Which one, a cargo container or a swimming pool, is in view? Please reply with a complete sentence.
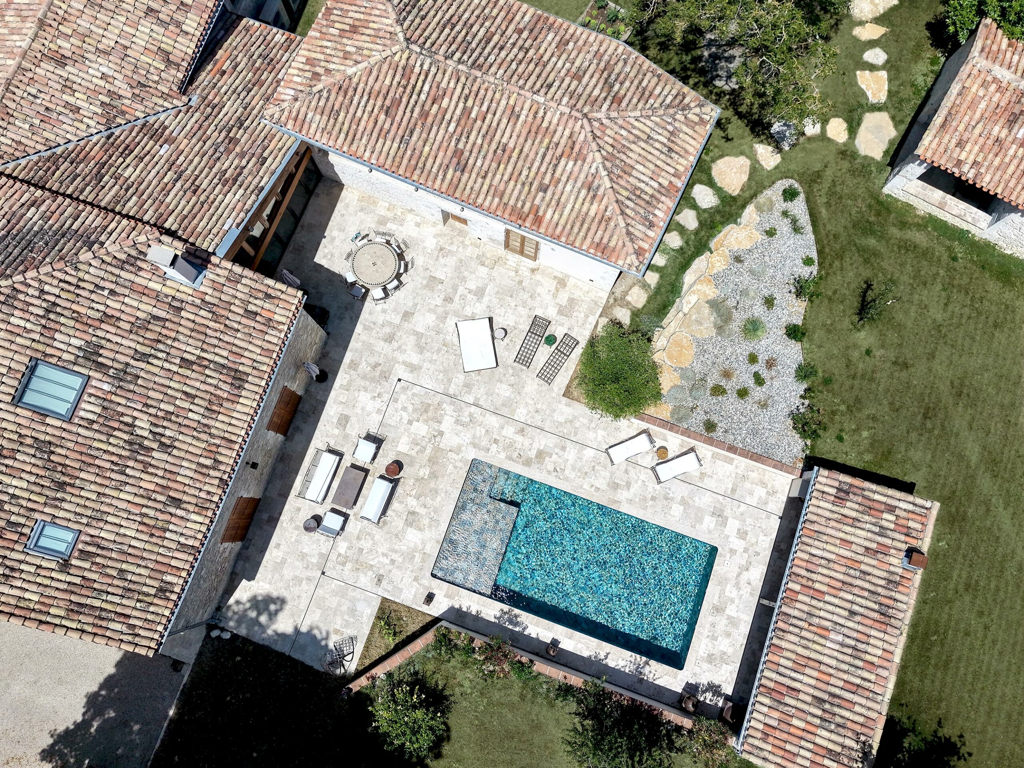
The one in the frame is a swimming pool.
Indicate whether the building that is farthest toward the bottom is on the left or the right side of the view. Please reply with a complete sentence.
You can find the building that is farthest toward the bottom on the right side of the picture.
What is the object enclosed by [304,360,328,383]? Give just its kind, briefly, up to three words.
umbrella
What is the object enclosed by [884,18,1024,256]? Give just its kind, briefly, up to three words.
shed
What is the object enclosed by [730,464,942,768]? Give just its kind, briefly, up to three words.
building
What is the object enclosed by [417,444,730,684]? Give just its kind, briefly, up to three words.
swimming pool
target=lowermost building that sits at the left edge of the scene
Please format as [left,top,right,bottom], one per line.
[0,169,326,659]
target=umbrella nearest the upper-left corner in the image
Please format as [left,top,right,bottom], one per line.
[285,271,310,297]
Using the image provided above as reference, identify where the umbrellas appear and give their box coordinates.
[304,360,328,383]
[285,271,310,297]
